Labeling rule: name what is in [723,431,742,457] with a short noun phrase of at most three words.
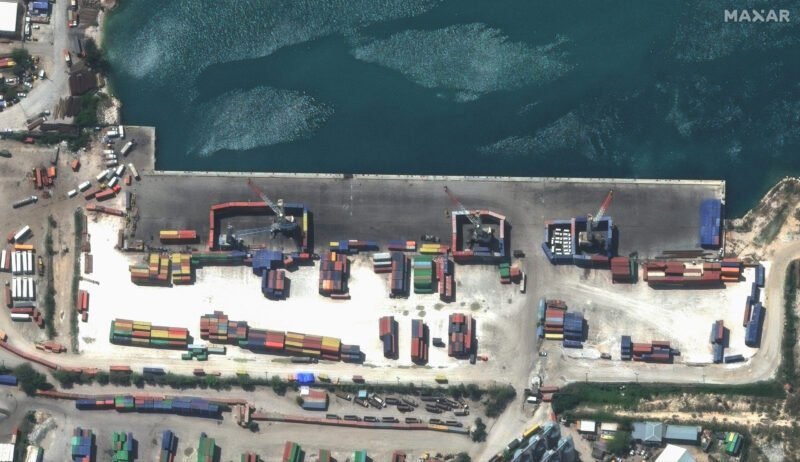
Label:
house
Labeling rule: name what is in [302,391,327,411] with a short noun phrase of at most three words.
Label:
building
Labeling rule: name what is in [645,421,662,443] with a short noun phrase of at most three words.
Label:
building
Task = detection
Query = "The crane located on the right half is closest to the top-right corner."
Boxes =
[577,188,613,245]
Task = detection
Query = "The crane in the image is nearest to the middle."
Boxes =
[443,185,495,242]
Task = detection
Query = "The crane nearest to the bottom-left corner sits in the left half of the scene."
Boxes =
[218,224,274,252]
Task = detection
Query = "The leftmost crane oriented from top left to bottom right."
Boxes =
[247,178,295,232]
